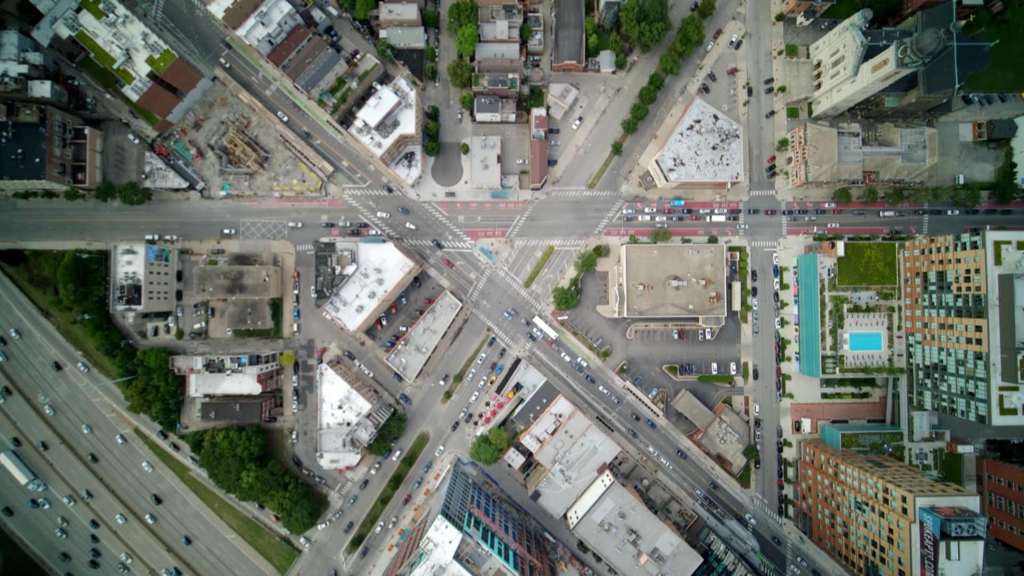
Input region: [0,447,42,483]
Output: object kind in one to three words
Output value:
truck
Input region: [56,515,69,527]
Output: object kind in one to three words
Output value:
vehicle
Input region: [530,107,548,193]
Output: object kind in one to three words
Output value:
building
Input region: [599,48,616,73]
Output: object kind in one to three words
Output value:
shed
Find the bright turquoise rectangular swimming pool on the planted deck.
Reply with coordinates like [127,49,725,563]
[842,330,884,352]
